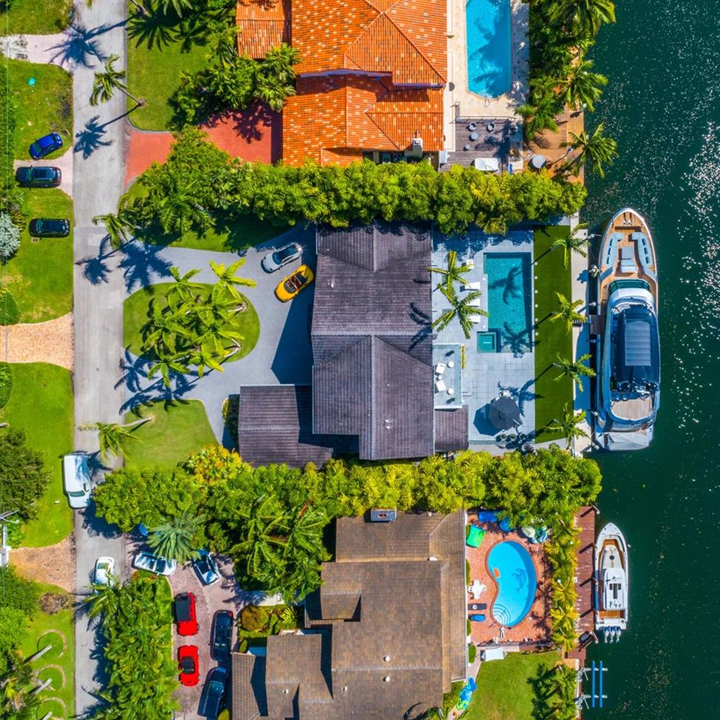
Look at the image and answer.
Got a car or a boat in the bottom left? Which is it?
car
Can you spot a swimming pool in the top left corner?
No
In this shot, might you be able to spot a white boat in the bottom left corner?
No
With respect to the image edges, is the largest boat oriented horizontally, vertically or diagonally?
vertically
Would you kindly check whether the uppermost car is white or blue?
blue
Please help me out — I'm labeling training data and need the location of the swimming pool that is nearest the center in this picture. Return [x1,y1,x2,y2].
[477,332,497,353]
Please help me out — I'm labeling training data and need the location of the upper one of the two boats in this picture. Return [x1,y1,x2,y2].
[595,208,661,450]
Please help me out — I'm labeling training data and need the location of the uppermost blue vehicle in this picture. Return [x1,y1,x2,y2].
[27,131,67,161]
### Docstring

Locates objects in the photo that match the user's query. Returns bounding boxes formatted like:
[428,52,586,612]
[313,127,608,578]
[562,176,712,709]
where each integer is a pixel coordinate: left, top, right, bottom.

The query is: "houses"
[239,218,468,467]
[237,0,453,174]
[232,501,466,720]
